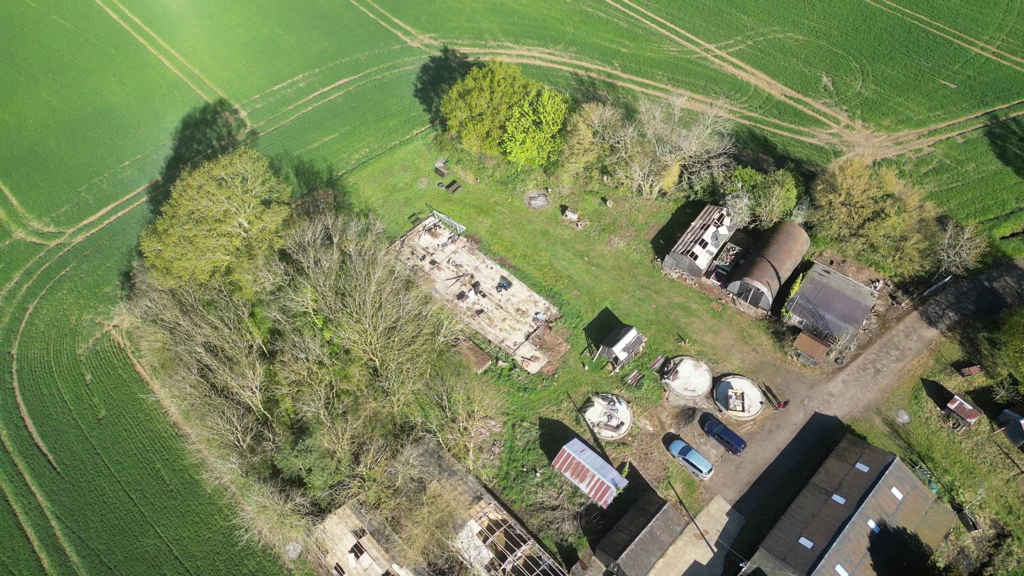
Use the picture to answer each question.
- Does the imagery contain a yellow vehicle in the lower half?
No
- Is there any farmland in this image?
Yes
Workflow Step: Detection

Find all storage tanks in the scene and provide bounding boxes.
[583,393,634,443]
[662,356,712,403]
[712,374,764,423]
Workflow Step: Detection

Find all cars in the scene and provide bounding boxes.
[704,418,751,461]
[668,439,717,484]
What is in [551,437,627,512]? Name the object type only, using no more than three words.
shed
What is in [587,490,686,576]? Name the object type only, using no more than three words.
barn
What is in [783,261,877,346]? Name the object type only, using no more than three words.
shed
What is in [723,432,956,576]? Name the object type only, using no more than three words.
barn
